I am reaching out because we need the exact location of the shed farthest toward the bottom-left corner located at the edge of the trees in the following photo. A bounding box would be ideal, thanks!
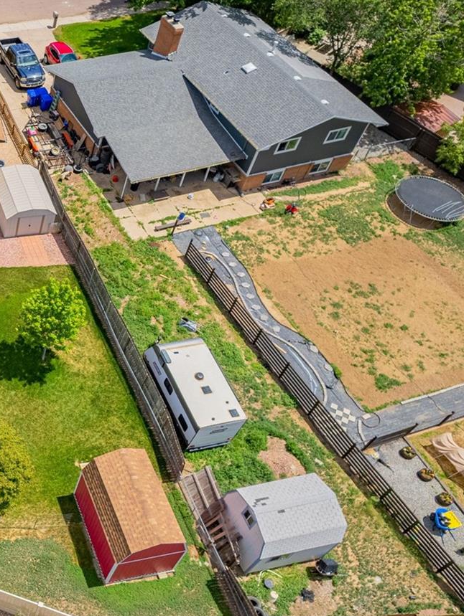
[66,448,193,583]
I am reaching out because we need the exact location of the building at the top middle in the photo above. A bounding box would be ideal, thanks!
[50,0,387,201]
